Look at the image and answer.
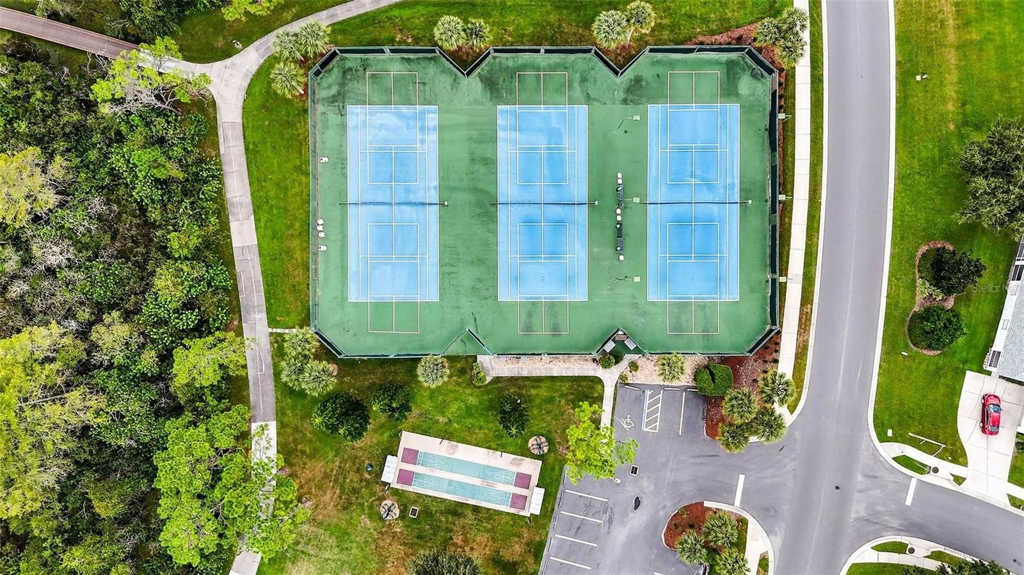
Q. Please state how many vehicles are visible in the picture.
1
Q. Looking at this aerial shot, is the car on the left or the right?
right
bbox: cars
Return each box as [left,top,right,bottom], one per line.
[981,396,1005,436]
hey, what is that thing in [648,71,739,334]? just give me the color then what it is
blue tennis court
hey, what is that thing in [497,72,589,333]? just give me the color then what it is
blue tennis court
